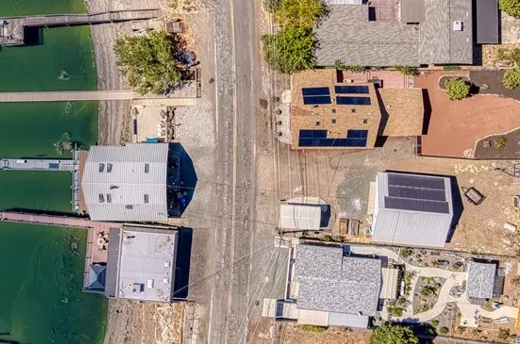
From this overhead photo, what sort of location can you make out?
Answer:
residential area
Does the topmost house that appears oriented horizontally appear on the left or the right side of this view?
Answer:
right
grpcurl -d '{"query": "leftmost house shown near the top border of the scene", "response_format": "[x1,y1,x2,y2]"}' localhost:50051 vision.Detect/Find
[314,0,472,66]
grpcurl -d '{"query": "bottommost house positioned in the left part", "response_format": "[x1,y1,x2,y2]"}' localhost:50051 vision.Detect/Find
[107,226,180,302]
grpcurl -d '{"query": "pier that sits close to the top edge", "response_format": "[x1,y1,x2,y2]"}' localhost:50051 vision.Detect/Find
[0,5,159,47]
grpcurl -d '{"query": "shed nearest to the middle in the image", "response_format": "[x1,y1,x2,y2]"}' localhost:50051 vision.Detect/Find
[279,205,321,230]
